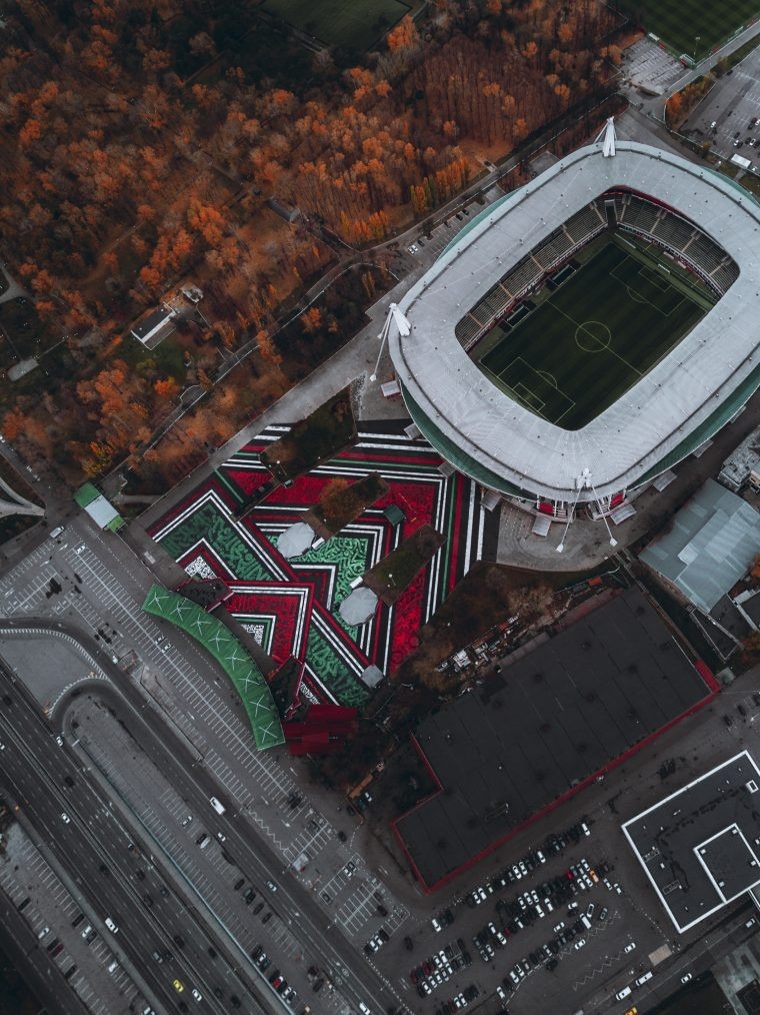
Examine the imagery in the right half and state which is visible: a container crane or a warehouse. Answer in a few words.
warehouse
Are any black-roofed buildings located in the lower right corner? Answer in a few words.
Yes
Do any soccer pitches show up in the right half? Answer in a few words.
Yes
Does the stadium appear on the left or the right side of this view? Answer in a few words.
right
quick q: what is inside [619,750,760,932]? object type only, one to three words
building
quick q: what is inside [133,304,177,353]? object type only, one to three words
house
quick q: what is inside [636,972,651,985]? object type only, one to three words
vehicle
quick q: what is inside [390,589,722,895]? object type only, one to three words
warehouse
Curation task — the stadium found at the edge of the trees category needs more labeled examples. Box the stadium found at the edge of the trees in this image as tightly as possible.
[368,111,760,553]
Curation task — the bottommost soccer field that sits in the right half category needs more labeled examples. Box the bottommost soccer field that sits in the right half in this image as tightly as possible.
[476,238,713,430]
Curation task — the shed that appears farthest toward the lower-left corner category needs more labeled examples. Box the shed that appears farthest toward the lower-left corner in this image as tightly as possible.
[118,650,143,675]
